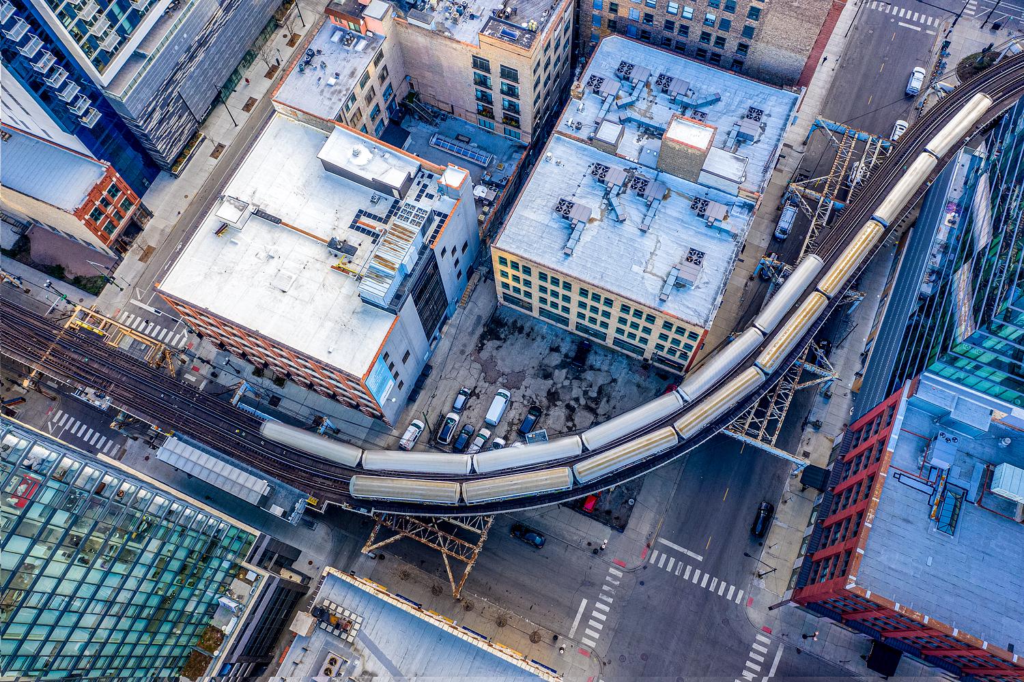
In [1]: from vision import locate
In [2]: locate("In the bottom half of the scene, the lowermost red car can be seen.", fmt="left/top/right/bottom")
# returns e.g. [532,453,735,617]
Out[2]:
[580,490,600,518]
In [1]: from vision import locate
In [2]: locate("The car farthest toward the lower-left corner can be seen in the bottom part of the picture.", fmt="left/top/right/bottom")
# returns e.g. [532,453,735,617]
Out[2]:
[399,419,423,451]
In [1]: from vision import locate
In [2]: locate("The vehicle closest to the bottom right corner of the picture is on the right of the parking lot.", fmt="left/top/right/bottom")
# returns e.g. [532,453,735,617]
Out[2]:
[751,502,773,537]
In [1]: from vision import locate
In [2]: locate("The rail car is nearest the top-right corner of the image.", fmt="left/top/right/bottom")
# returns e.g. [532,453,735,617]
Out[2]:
[919,101,991,170]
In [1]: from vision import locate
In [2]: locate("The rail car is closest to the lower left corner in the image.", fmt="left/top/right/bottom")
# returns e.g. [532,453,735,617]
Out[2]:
[266,421,366,472]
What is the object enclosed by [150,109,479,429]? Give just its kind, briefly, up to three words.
building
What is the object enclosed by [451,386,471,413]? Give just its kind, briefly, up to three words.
car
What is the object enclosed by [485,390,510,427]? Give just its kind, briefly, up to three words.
vehicle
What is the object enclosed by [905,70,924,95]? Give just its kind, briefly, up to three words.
vehicle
